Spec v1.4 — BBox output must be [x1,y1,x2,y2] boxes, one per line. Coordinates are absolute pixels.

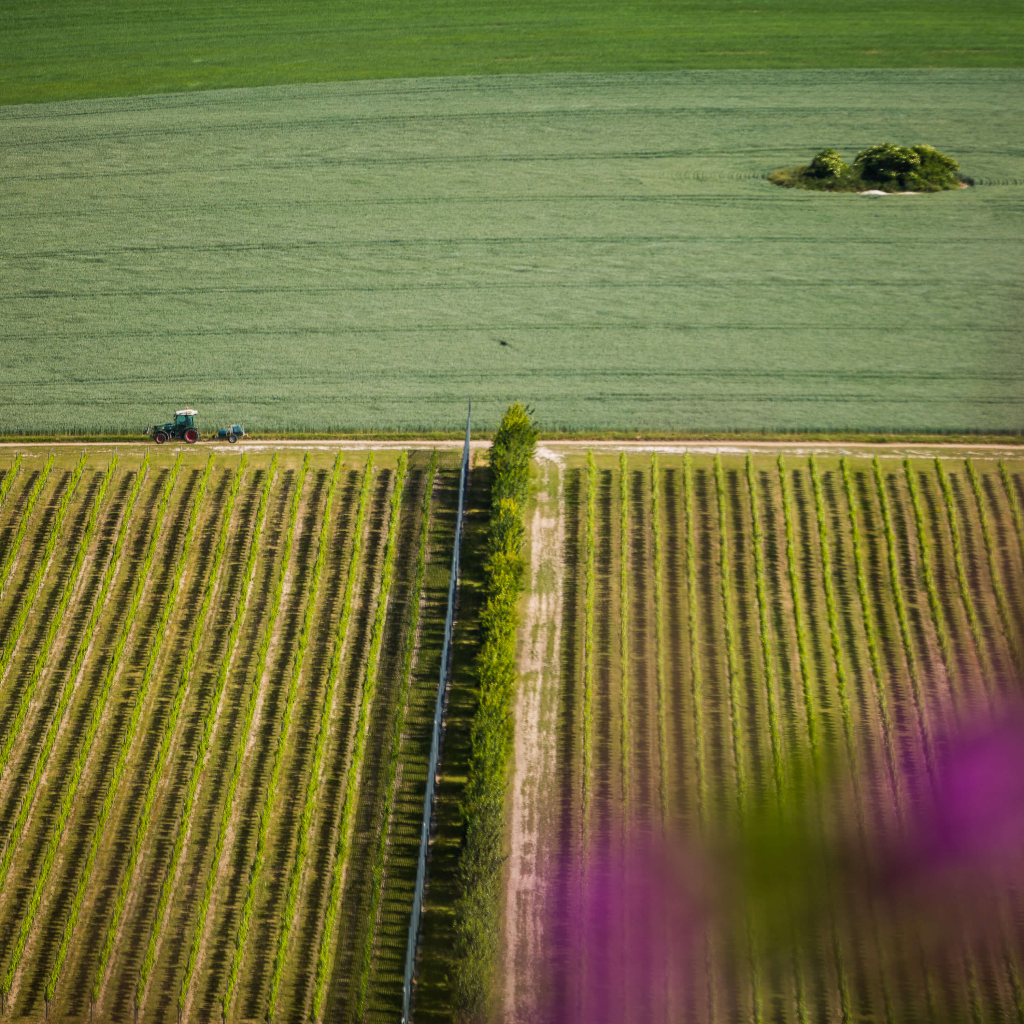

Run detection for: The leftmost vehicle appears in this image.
[143,406,203,443]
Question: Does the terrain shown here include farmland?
Yes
